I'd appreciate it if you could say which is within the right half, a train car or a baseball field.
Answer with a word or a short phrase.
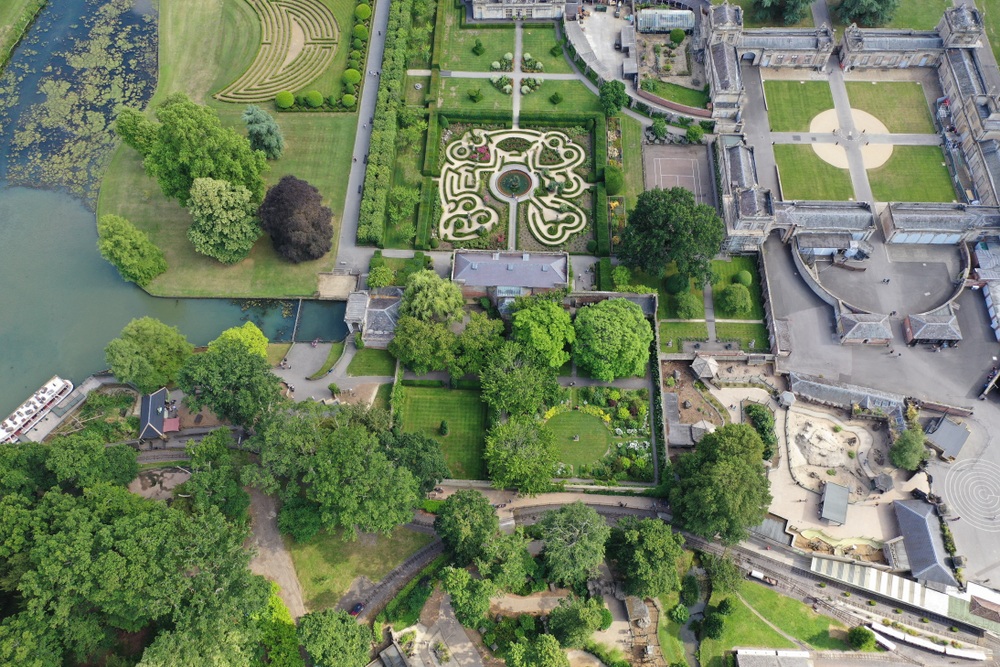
train car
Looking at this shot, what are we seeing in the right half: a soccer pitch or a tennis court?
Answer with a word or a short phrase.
tennis court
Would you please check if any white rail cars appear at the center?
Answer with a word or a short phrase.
No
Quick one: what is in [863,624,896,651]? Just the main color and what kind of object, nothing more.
white rail car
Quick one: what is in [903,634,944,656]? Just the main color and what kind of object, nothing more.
white rail car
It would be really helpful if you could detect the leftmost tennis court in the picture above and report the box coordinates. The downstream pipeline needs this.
[644,145,718,213]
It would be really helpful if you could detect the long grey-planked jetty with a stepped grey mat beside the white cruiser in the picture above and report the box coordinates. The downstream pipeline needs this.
[26,377,102,440]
